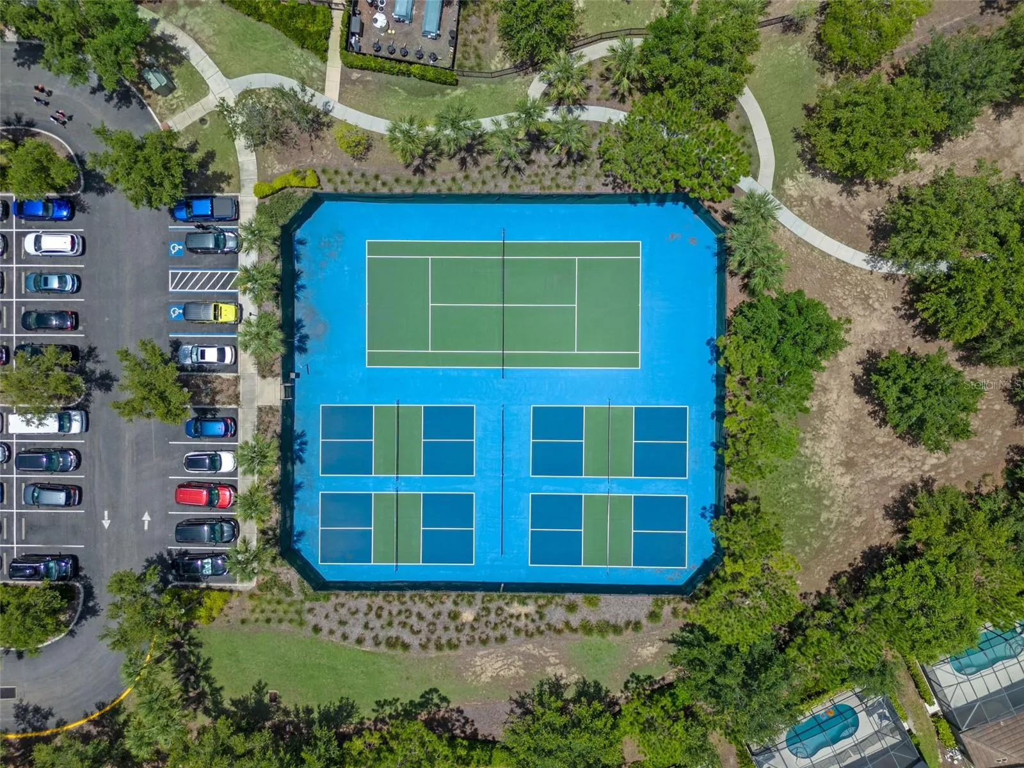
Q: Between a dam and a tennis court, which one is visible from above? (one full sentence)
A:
It is a tennis court that can be seen here.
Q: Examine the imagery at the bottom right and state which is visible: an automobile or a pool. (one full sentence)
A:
Visible at the bottom right is a pool.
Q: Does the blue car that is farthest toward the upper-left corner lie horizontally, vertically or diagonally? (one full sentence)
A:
In this picture, the blue car that is farthest toward the upper-left corner lies horizontally.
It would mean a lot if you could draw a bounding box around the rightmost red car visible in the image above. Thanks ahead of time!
[175,482,239,510]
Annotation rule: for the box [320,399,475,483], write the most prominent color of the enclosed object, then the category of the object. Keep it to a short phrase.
blue sports court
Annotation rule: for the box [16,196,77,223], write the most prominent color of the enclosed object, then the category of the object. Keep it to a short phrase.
blue car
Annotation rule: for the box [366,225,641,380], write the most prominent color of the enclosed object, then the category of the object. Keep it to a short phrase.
green tennis court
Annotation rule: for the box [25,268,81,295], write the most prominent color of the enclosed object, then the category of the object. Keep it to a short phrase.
blue car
